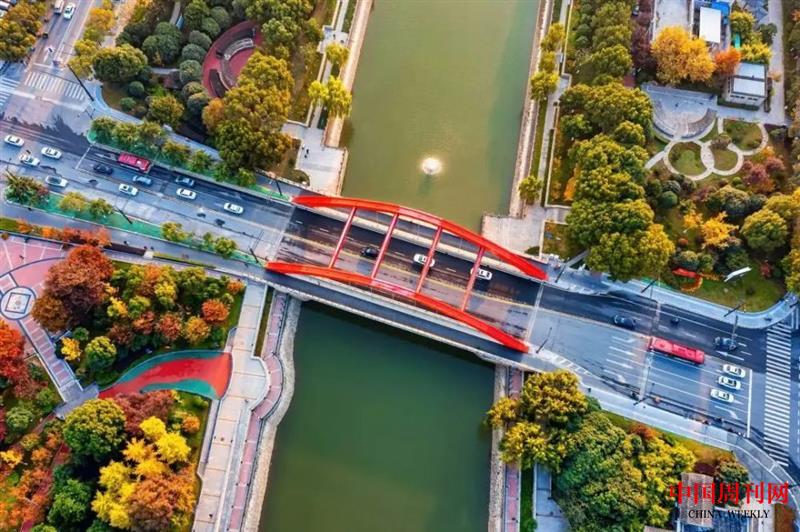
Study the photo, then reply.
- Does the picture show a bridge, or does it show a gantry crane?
bridge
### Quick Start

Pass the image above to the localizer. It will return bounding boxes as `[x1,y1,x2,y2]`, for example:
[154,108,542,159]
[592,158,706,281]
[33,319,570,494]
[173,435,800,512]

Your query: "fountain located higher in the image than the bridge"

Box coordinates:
[417,155,448,177]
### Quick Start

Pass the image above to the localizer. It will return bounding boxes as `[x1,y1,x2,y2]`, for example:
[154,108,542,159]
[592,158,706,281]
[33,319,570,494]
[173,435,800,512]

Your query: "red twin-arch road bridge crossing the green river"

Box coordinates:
[248,182,559,368]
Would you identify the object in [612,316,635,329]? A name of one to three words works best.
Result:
vehicle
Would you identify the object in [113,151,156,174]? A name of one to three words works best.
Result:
bus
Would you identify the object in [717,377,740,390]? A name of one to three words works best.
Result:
vehicle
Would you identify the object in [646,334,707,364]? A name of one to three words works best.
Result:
bus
